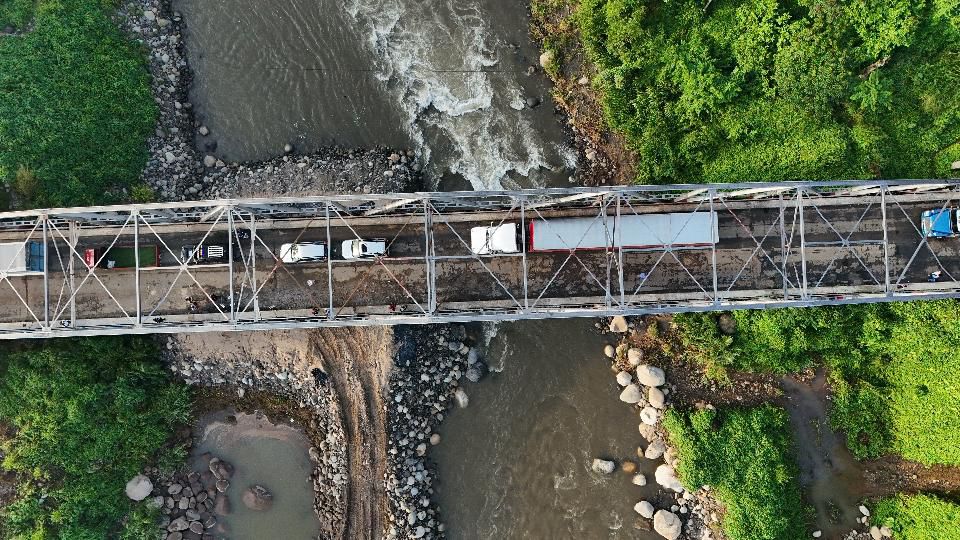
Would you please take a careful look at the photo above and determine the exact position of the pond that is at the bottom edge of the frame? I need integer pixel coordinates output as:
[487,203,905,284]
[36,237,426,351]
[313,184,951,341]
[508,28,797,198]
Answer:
[199,423,316,540]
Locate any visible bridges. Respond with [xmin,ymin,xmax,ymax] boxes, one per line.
[0,178,960,339]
